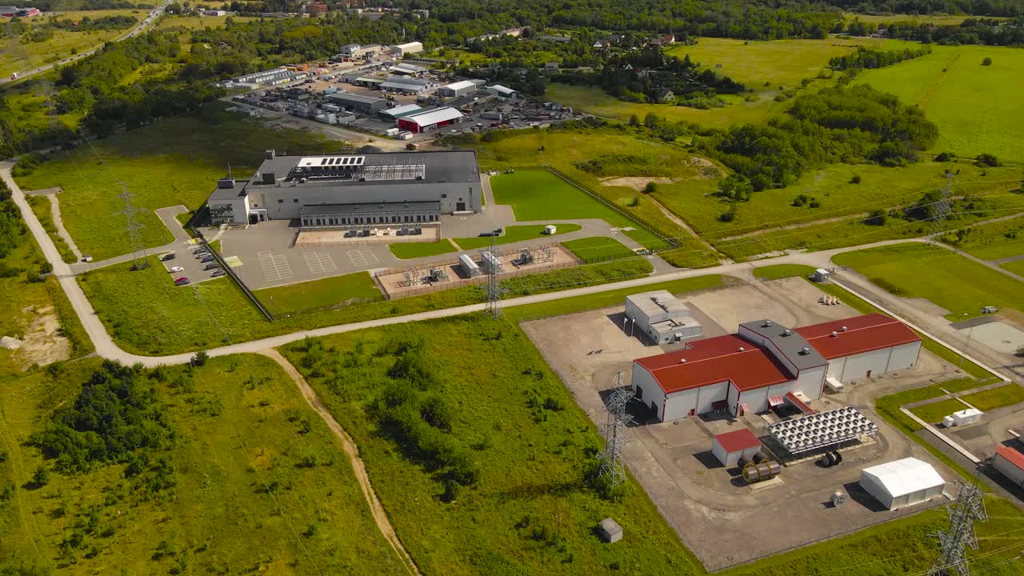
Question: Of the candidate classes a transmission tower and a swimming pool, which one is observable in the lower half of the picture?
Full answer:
What appears in the lower half of the picture is a transmission tower.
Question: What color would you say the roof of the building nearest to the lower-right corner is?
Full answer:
The color of the roof on the building nearest to the lower-right corner is red.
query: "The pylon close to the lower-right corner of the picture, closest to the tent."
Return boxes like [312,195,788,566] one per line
[926,469,999,576]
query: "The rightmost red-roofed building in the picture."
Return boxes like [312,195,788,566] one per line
[991,443,1024,487]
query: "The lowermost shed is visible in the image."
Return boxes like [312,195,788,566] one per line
[596,516,622,542]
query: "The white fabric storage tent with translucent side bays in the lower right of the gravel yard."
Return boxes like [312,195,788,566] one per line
[858,457,946,510]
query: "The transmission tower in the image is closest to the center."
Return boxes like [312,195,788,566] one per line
[474,230,512,323]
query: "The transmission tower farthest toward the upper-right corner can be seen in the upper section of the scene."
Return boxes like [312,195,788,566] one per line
[918,172,958,246]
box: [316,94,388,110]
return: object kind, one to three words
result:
building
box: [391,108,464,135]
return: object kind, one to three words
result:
building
